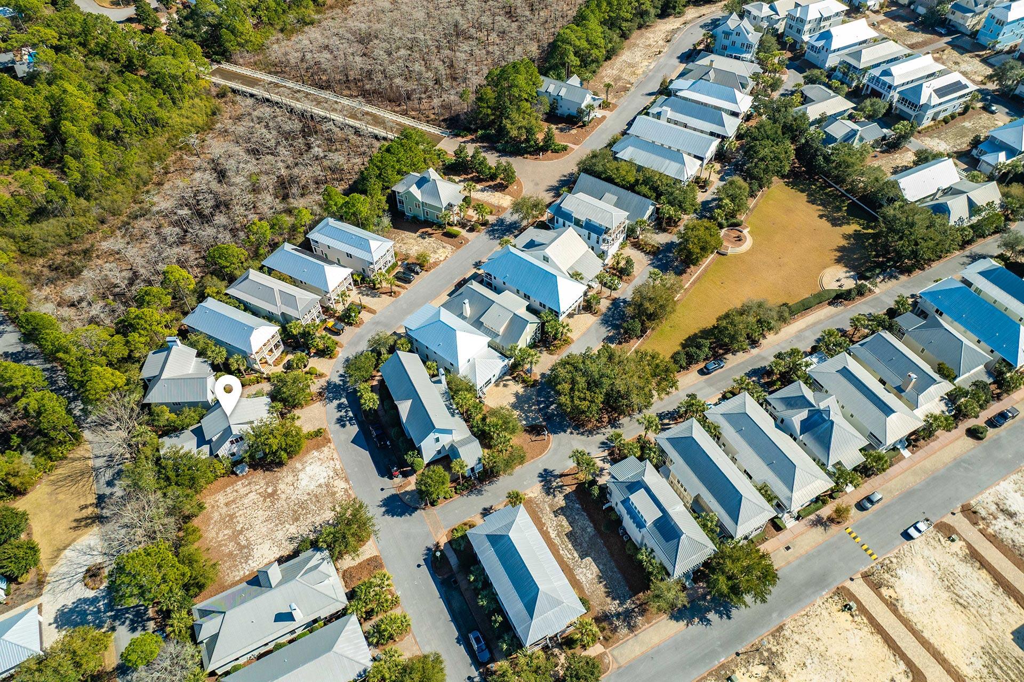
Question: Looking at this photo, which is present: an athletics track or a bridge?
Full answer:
This aerial view contains a bridge.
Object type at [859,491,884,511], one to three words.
car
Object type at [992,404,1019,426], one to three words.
truck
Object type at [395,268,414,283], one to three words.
car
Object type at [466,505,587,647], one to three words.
house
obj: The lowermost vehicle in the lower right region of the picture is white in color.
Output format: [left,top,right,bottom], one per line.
[903,519,937,542]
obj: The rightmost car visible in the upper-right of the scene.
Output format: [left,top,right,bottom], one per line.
[980,101,998,113]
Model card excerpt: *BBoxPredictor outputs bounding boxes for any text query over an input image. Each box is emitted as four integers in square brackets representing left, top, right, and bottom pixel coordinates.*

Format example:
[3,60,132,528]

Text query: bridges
[197,58,455,154]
